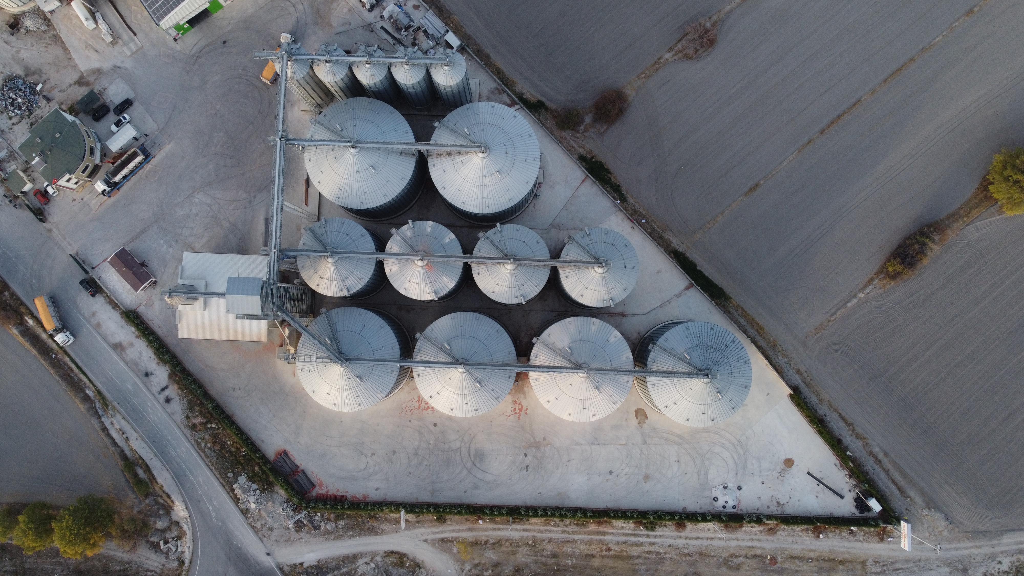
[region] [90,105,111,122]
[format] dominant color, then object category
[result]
black car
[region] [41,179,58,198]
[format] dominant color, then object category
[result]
white car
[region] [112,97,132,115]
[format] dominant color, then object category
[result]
black car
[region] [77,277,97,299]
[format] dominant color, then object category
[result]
black vehicle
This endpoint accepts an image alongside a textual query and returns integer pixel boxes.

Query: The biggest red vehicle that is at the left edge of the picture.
[32,189,48,205]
